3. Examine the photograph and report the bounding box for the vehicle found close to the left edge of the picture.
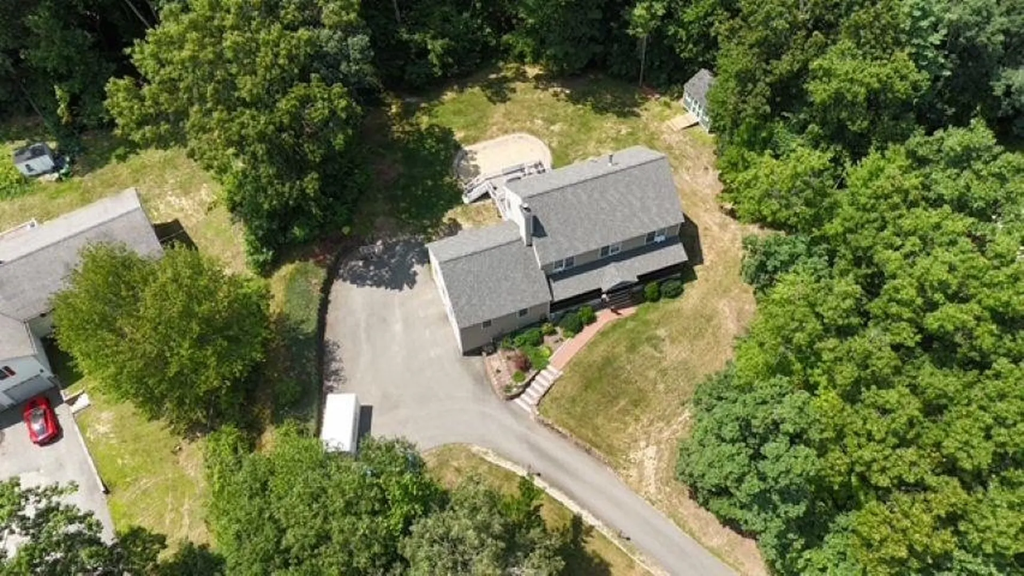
[19,394,59,452]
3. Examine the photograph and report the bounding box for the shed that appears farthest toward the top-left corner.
[5,136,54,176]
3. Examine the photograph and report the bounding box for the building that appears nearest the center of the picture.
[426,147,688,353]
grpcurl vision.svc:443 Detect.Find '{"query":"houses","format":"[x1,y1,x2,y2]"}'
[426,147,688,353]
[0,188,163,408]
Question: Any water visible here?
No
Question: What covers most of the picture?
trees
